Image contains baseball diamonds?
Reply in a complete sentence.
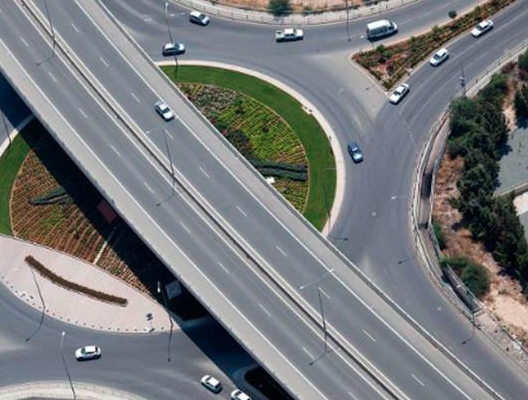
No, the frame has no baseball diamond in it.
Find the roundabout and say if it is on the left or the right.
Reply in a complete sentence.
The roundabout is on the left side of the image.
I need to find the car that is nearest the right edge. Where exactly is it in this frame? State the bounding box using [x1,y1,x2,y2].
[470,21,494,37]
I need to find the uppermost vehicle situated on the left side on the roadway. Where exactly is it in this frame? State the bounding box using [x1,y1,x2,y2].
[189,11,210,25]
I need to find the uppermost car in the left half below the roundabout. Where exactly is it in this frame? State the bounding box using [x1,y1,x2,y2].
[76,346,100,360]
